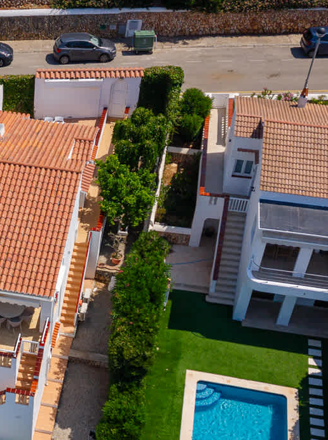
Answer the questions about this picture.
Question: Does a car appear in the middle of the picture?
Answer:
No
